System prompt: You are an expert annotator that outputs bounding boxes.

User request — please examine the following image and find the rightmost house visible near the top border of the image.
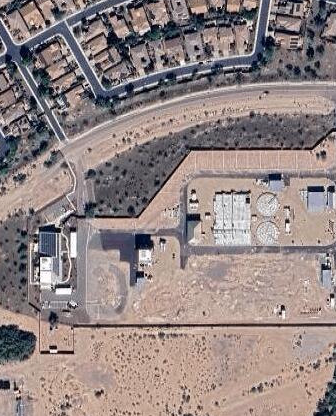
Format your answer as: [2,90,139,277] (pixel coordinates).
[322,3,336,40]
